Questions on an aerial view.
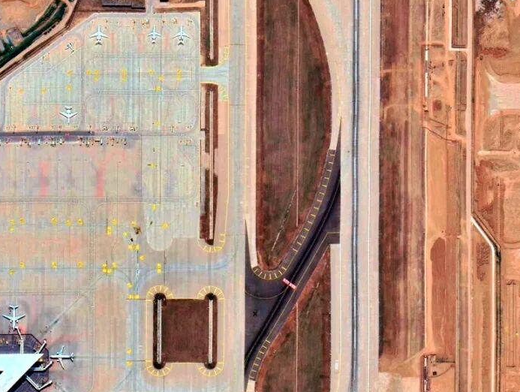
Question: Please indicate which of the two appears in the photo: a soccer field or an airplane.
airplane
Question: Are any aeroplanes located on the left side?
Yes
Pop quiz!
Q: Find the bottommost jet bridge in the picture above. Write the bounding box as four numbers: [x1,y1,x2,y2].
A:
[24,375,54,392]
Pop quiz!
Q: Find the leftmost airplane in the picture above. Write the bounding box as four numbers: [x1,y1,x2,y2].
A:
[2,305,25,330]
